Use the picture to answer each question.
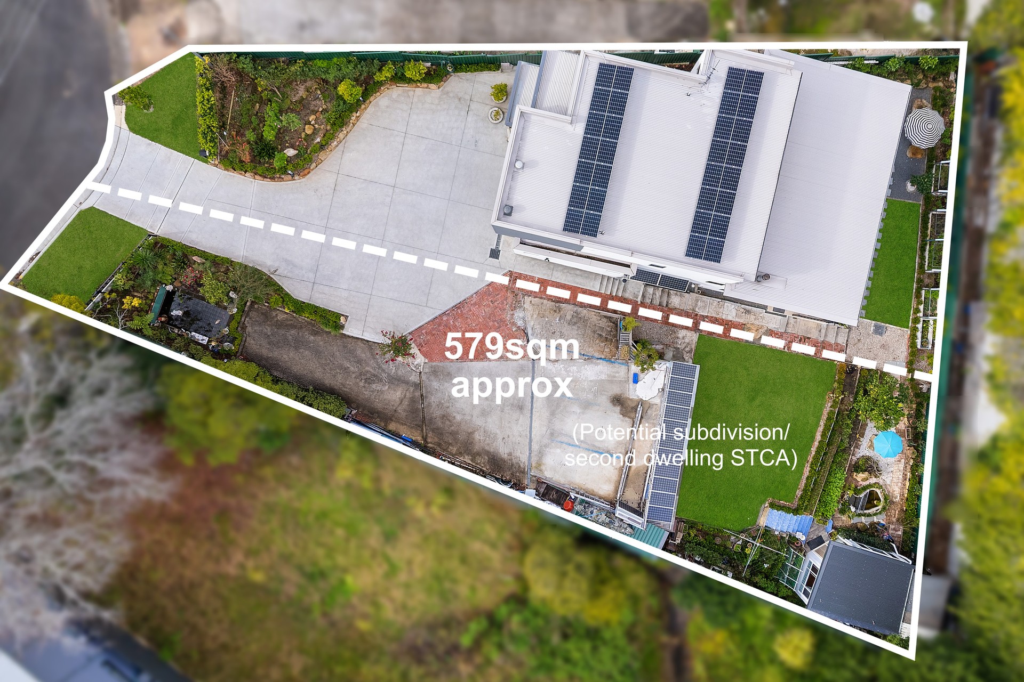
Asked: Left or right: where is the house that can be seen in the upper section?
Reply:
right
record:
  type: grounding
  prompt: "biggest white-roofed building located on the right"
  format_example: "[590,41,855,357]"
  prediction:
[491,41,914,327]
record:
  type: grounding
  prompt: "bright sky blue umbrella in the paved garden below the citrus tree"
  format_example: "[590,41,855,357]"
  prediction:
[872,429,903,460]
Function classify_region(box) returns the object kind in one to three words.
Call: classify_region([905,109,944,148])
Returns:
umbrella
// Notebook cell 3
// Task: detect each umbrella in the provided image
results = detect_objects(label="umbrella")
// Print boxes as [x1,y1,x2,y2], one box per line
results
[905,109,944,148]
[872,429,903,460]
